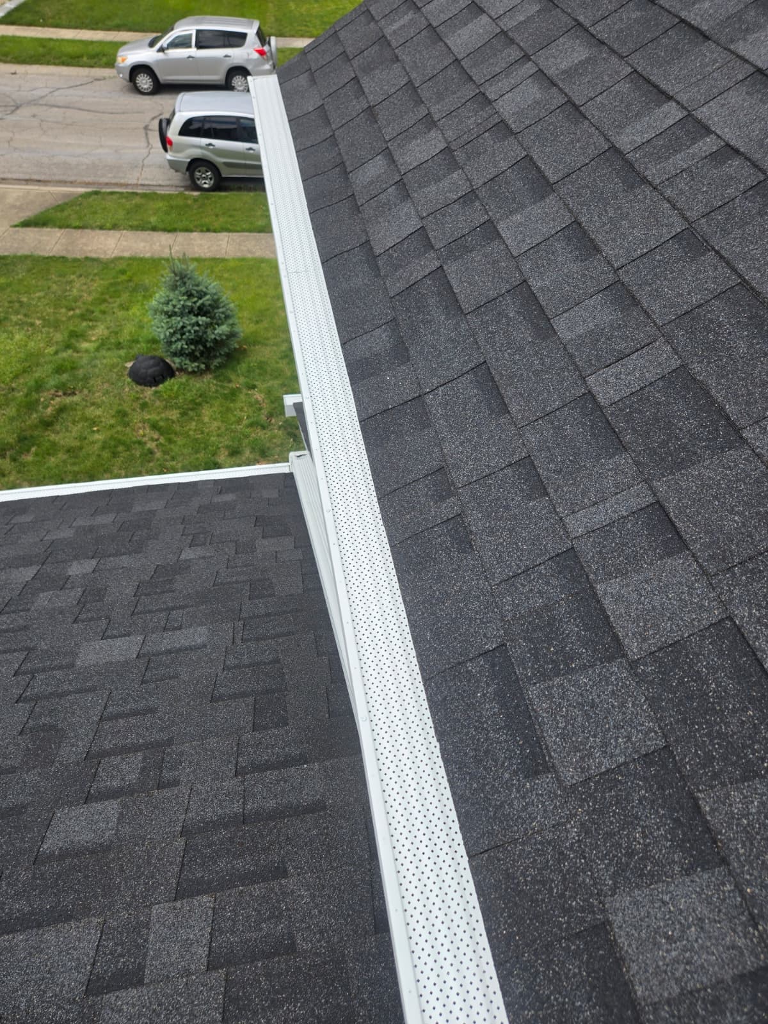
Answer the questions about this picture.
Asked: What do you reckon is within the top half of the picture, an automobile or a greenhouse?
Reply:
automobile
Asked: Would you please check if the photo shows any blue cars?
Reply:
No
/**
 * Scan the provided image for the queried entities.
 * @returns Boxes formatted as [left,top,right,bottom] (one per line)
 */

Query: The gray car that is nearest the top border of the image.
[112,14,278,98]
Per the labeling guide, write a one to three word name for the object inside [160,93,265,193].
car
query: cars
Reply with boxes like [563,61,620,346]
[112,14,278,98]
[160,93,265,193]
